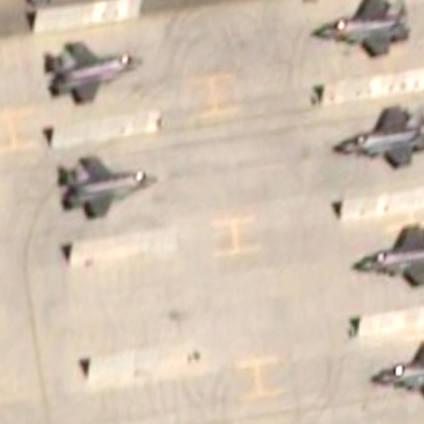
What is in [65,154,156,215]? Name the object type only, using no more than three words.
airplane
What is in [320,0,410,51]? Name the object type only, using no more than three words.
airplane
